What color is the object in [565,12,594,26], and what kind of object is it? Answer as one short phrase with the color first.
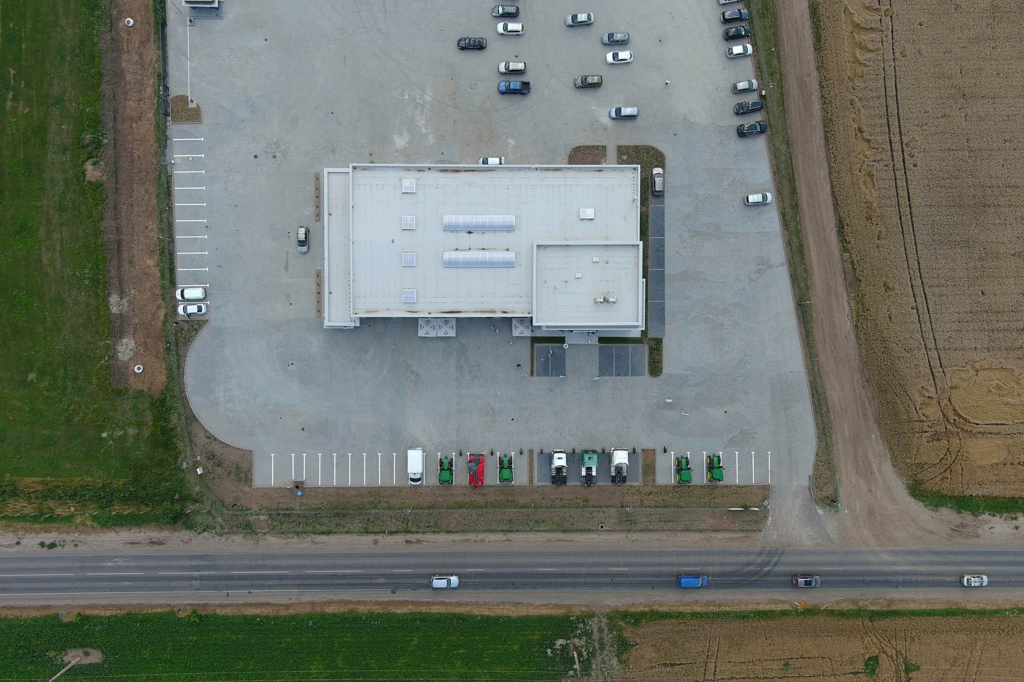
gray car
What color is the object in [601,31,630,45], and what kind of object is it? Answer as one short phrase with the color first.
gray car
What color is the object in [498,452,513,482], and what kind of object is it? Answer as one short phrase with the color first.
green work vehicle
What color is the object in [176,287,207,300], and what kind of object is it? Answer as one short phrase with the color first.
white vehicle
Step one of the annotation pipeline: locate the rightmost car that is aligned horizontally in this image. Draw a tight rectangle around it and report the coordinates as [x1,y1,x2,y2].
[960,574,988,588]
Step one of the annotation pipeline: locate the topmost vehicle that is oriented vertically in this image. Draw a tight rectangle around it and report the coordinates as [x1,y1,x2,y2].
[652,168,665,196]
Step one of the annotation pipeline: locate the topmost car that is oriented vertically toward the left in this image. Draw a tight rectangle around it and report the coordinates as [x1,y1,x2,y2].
[295,225,309,254]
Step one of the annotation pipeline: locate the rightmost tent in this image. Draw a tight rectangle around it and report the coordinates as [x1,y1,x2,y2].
[512,318,530,336]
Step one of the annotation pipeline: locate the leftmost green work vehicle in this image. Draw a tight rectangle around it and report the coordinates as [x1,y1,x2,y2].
[438,454,454,484]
